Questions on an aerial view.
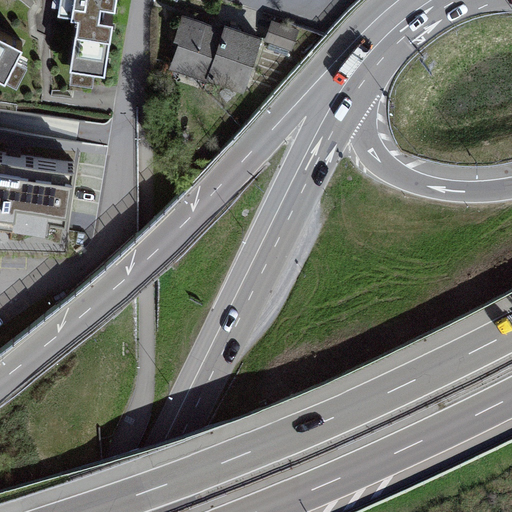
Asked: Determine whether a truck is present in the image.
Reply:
Yes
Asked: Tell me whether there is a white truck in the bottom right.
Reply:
No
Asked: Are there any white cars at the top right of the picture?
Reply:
Yes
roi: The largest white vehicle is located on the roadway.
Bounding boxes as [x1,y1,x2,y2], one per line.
[330,40,370,84]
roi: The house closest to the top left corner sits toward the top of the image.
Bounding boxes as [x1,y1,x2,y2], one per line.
[0,32,29,90]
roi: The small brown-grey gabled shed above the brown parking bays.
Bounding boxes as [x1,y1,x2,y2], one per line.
[264,18,298,51]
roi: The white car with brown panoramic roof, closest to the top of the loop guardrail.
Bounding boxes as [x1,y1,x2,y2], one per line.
[445,3,467,20]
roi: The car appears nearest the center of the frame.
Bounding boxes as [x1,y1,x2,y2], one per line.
[223,308,239,330]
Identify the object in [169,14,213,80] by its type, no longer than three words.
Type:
house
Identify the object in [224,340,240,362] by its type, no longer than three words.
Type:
car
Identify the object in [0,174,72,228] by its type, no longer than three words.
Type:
building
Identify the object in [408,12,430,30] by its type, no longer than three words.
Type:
car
